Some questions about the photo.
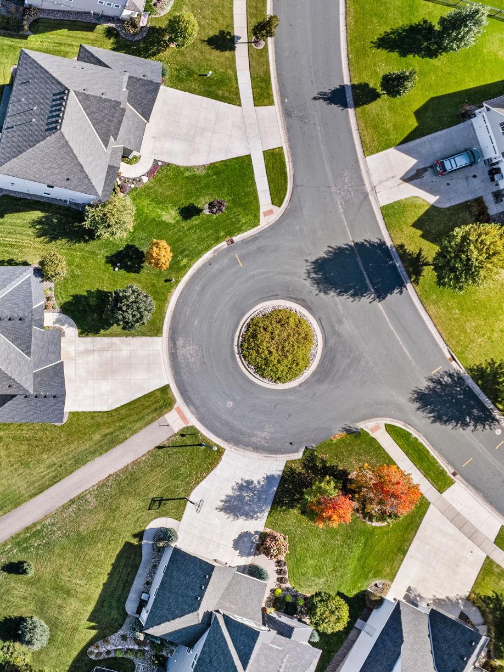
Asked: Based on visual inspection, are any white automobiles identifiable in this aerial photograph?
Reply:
No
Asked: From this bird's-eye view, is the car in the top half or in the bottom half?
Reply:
top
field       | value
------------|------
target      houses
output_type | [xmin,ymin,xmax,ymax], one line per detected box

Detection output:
[345,598,490,672]
[141,546,322,672]
[0,44,161,200]
[0,0,146,25]
[0,267,66,423]
[470,96,504,198]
